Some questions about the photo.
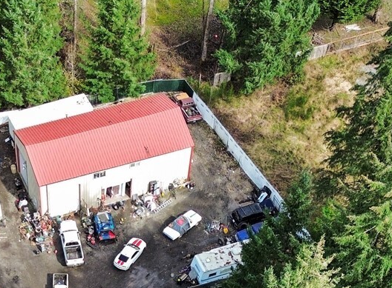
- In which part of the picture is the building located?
left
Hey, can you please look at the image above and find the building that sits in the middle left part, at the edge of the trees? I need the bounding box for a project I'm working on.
[9,95,195,219]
